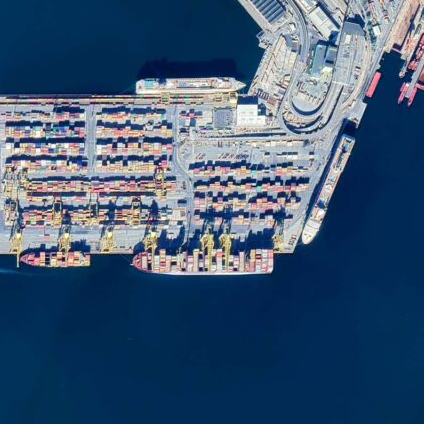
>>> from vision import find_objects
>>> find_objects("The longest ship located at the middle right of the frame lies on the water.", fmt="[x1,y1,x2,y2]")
[304,136,352,243]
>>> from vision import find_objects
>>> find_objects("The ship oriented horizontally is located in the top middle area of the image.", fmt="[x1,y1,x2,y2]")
[135,75,245,93]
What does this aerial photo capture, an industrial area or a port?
port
